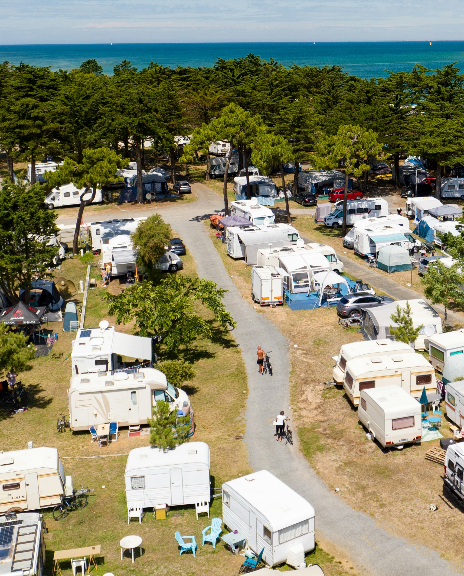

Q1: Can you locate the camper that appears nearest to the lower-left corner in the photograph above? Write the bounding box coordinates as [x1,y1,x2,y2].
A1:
[0,515,54,576]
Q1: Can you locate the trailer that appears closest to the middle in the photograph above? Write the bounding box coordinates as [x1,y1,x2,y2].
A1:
[251,268,283,307]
